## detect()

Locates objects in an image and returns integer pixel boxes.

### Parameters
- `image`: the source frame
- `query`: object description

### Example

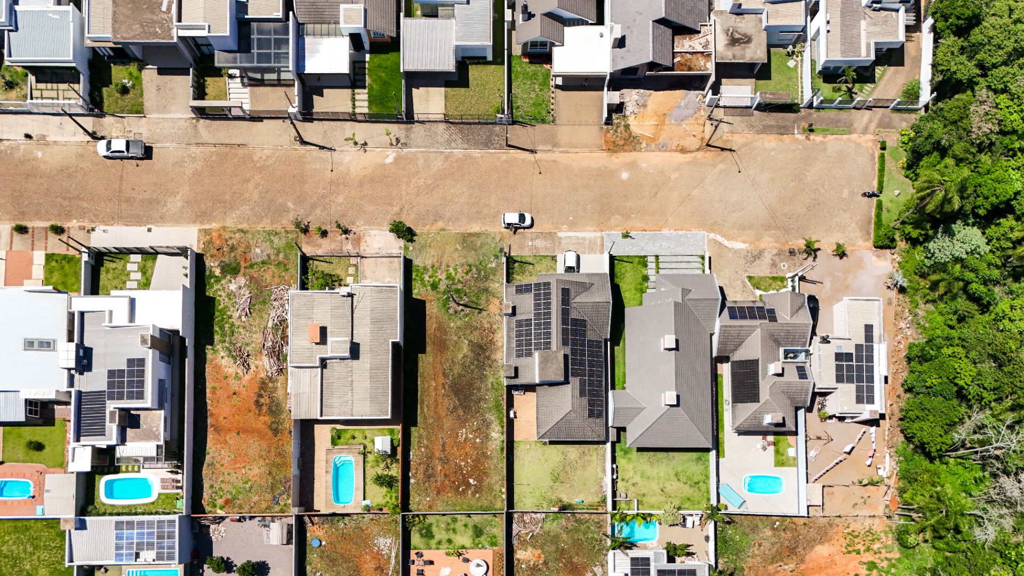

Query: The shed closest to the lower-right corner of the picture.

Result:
[806,484,822,506]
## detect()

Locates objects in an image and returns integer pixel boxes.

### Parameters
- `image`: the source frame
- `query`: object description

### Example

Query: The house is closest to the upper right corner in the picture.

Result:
[807,0,915,79]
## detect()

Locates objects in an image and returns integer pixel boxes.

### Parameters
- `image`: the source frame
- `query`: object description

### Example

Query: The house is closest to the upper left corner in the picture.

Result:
[0,0,91,78]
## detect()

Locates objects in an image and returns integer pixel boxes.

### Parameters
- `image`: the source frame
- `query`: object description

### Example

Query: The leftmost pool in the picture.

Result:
[0,478,34,500]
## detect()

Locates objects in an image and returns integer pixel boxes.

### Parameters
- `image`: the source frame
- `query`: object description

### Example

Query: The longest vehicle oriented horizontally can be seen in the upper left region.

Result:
[96,136,143,158]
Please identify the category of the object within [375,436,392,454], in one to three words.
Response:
shed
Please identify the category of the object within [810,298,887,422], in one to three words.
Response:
house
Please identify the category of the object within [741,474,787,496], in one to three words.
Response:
swimming pool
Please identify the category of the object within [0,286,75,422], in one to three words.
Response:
house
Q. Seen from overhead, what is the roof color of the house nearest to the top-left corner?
white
